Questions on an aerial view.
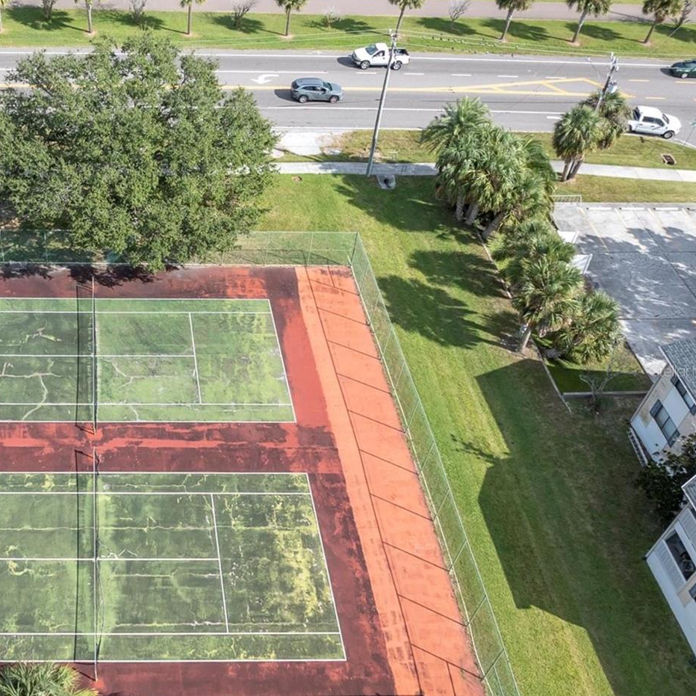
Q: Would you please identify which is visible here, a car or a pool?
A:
car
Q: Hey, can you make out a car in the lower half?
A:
No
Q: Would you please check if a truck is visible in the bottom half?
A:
No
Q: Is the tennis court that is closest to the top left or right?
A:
left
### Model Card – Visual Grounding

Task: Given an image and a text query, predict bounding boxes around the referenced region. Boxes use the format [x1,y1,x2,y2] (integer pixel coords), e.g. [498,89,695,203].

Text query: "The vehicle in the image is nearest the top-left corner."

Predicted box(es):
[291,76,347,103]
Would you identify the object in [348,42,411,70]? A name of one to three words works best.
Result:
truck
